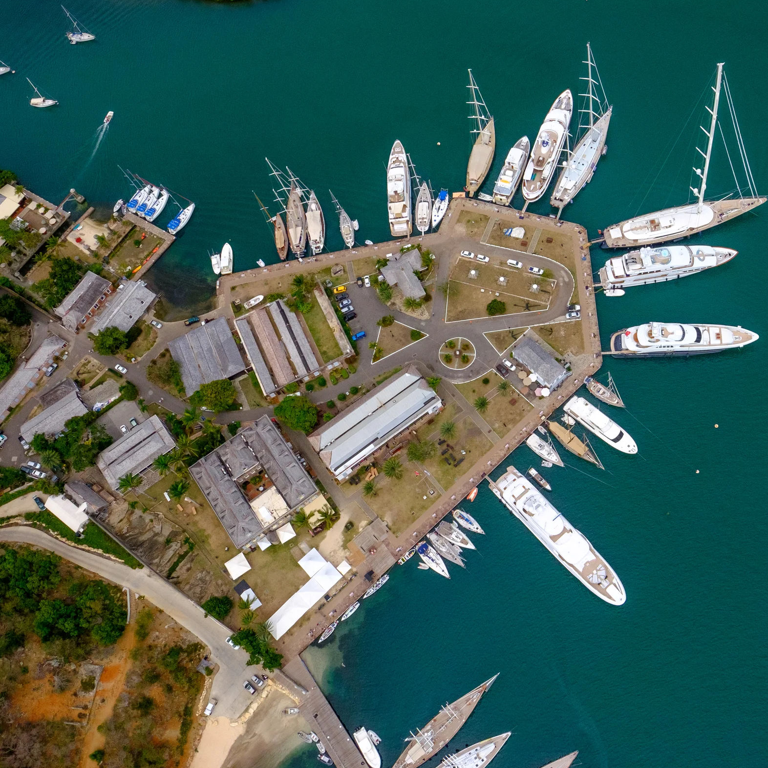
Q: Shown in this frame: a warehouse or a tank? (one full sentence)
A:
I can see a warehouse in this picture.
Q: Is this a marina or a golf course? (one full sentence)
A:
What you see here is a marina.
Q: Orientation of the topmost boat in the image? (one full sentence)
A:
In this picture, the topmost boat lies diagonally.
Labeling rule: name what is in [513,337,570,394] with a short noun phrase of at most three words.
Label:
building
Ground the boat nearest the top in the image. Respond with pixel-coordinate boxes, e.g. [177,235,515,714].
[57,6,95,42]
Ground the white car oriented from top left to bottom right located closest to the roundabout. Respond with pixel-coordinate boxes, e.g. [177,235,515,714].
[502,358,518,372]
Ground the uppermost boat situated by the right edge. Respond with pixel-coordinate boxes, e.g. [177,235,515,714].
[580,60,767,254]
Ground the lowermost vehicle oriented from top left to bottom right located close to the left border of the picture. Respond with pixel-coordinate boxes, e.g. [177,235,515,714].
[31,495,47,512]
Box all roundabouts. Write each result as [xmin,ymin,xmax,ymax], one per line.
[439,336,476,370]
